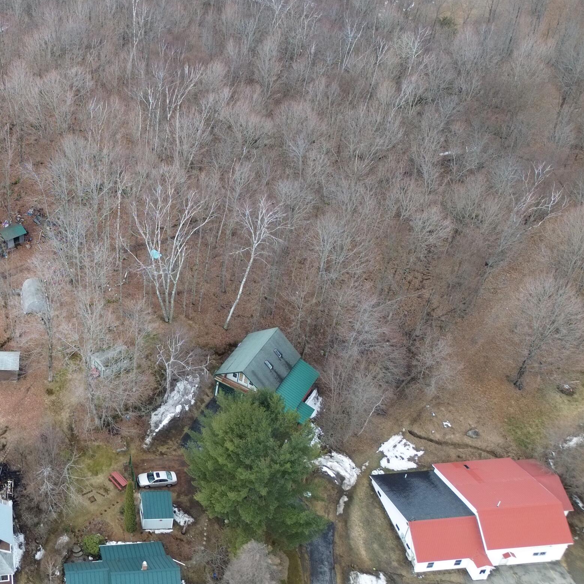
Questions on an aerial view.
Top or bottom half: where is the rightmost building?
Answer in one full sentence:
You can find the rightmost building in the bottom half.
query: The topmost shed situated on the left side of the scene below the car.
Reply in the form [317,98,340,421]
[139,486,176,529]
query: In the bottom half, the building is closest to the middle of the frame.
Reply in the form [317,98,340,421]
[213,329,319,435]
